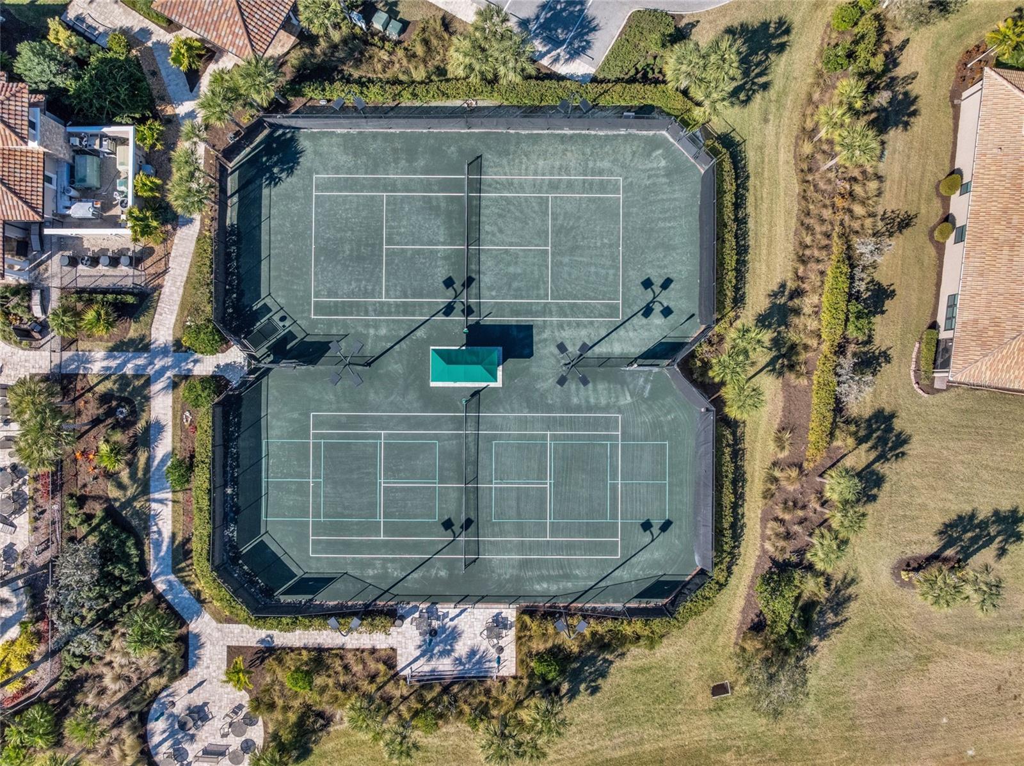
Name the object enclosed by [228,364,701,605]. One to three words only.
tennis court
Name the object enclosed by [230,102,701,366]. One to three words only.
tennis court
